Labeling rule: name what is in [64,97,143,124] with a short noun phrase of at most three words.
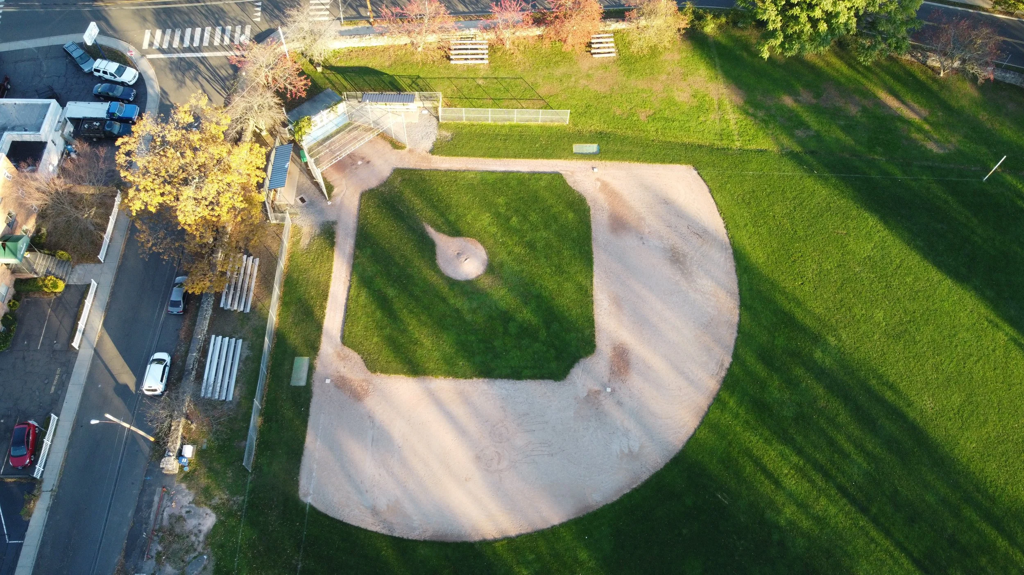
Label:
truck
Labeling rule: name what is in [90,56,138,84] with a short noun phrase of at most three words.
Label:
car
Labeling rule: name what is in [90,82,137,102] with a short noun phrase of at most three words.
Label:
car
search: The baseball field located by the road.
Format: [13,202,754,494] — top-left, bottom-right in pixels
[235,124,983,575]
